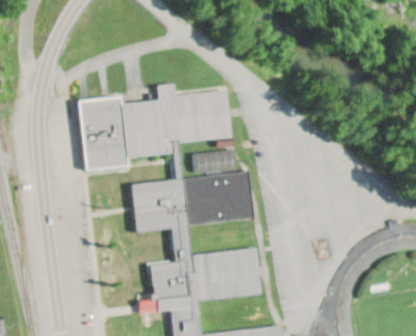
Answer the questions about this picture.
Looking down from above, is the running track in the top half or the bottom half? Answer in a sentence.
The running track is in the bottom half of the image.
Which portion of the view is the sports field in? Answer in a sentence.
The sports field is located in the bottom right region of the scene.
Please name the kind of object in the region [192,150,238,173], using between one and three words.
greenhouse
